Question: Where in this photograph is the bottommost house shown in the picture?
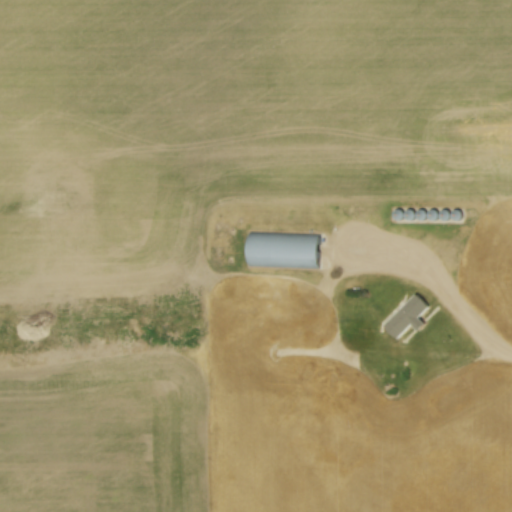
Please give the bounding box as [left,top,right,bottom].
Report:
[385,293,430,340]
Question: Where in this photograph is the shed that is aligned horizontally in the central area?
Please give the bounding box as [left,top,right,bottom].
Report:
[245,232,321,269]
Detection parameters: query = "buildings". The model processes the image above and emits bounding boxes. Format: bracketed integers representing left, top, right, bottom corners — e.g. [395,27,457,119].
[245,232,321,269]
[385,293,430,340]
